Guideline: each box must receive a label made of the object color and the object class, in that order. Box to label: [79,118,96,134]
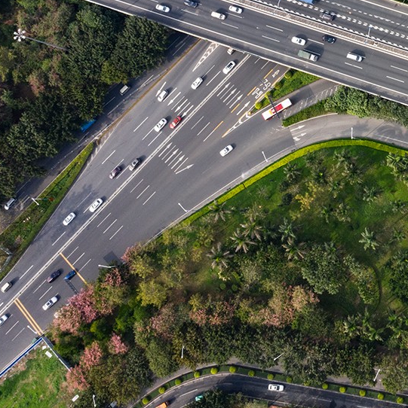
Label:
blue vehicle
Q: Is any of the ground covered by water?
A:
No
